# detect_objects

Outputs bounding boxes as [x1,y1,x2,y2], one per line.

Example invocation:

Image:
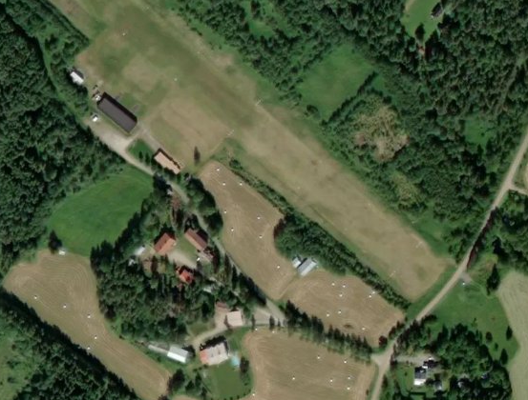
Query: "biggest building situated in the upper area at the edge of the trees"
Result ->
[98,98,137,132]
